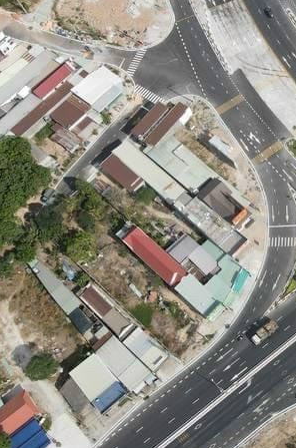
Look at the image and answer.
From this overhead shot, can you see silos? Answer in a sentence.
No, I find no silo anywhere in the image.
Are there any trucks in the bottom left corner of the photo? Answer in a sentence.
No, there is no truck in the bottom left corner of the photo.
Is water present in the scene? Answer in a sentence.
No, there is no water in the image.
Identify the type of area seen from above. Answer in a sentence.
This image shows a residential area.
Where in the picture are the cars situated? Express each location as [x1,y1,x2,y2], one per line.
[40,187,54,200]
[264,6,274,18]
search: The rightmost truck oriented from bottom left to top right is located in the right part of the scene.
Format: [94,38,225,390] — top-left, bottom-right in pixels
[250,316,279,344]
